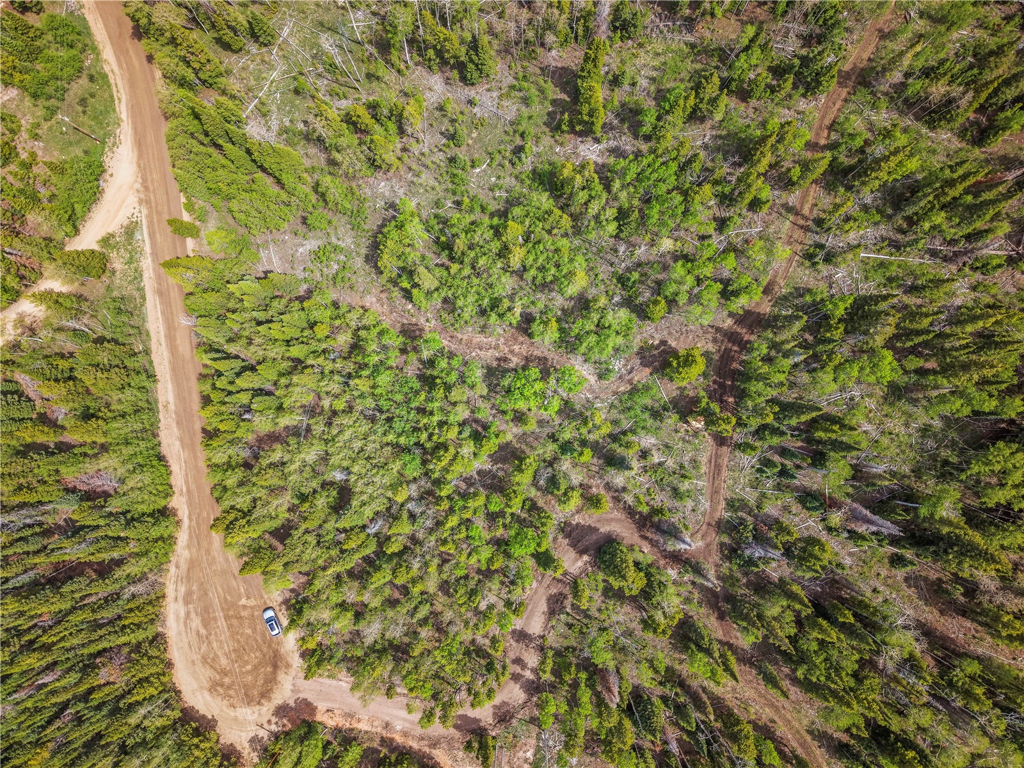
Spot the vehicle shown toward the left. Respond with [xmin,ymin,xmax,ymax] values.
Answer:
[261,607,281,639]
